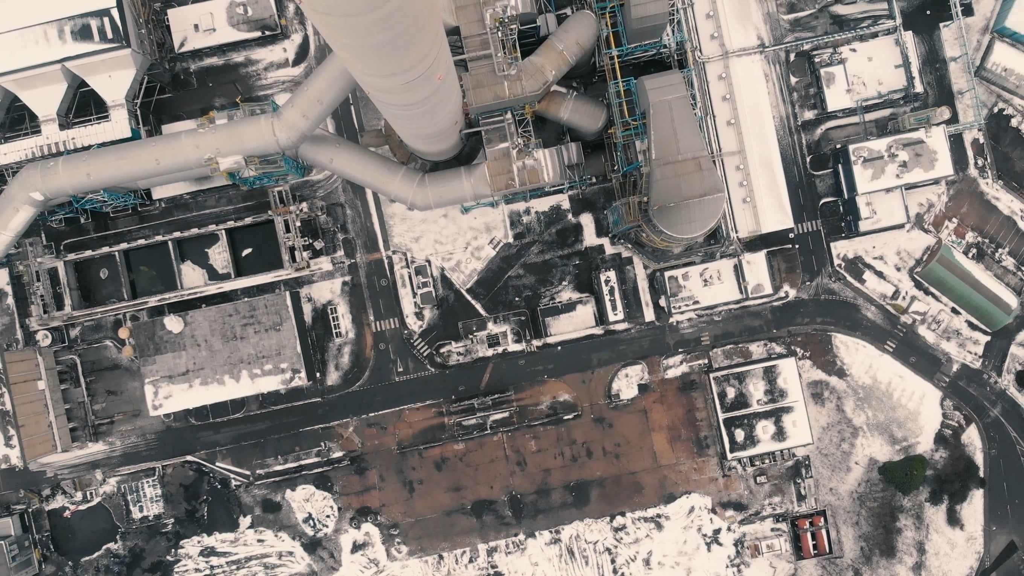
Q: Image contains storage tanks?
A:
Yes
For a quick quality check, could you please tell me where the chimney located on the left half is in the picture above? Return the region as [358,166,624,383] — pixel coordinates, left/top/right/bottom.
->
[295,0,475,168]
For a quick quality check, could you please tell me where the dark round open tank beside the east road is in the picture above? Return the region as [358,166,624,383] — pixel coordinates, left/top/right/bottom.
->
[782,56,812,84]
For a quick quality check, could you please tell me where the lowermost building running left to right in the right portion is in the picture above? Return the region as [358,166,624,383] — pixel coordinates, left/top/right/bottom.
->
[746,534,790,558]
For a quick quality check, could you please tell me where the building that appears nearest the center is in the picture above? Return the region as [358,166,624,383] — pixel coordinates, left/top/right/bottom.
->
[598,268,624,322]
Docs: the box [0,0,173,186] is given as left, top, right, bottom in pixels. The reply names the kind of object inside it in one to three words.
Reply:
house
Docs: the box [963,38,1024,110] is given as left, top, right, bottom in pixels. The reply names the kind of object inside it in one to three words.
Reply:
shed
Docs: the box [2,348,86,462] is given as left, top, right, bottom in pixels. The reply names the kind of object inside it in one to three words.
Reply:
shed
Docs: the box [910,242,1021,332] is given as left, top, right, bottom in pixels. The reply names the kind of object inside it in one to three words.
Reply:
building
